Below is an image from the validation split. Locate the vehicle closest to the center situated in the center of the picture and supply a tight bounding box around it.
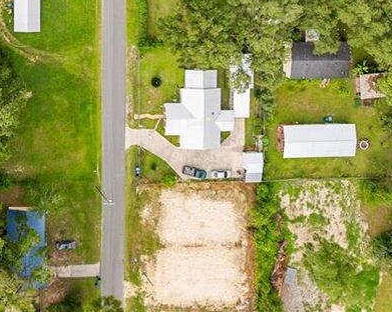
[181,165,207,178]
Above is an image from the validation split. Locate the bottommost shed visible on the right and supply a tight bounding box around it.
[239,148,263,181]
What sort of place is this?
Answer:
residential area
